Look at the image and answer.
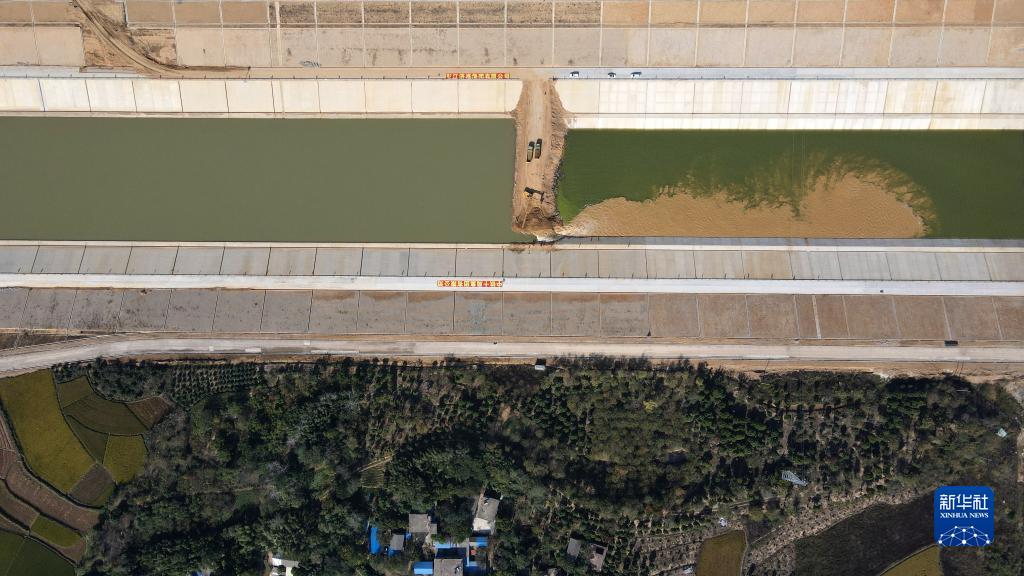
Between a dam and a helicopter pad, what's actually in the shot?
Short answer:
dam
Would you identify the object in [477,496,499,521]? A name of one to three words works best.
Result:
house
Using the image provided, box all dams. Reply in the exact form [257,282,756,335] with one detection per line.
[511,77,569,236]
